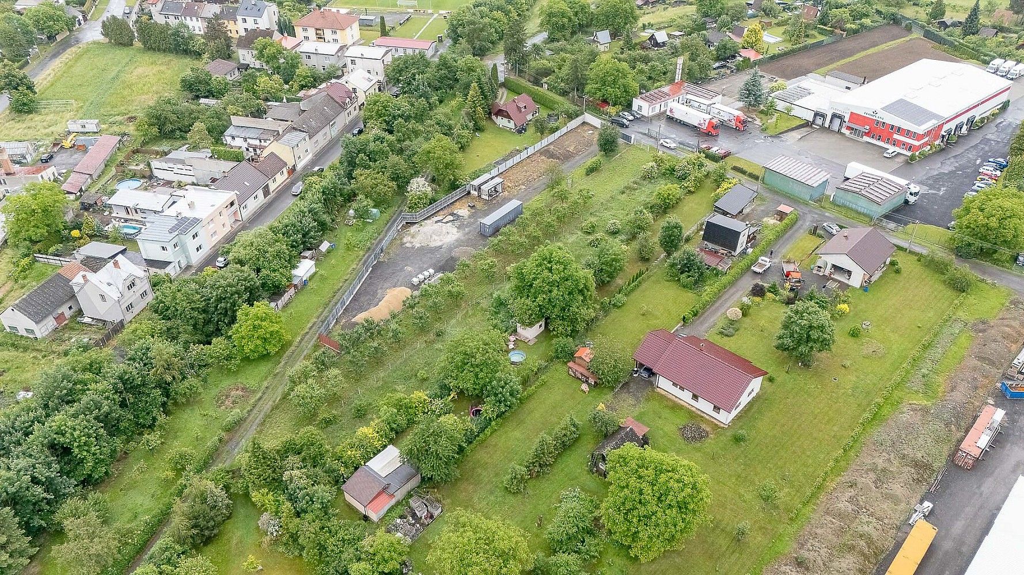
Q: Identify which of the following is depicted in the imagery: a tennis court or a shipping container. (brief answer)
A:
shipping container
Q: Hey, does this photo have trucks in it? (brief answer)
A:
Yes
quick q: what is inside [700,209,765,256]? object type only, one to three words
house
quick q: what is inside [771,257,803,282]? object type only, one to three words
truck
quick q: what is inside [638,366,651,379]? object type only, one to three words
vehicle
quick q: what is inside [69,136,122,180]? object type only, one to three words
barn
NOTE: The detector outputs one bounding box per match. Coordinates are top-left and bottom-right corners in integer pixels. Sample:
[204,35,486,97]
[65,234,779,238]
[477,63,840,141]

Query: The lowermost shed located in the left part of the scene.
[346,444,421,522]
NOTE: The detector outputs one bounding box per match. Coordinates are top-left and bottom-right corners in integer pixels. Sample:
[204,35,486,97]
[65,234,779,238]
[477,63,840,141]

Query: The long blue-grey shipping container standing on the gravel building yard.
[479,200,524,236]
